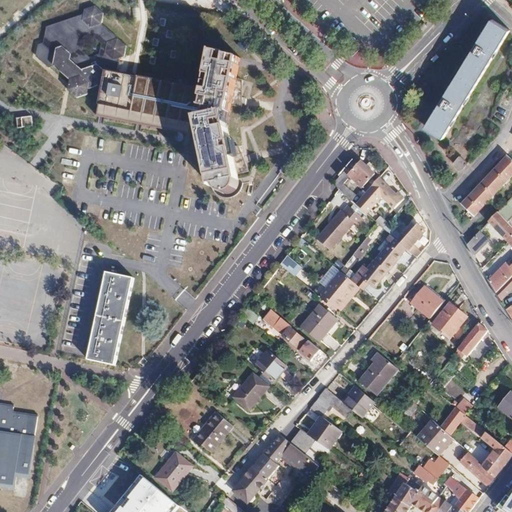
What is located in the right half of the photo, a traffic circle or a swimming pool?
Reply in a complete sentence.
What appears in the right half of the photo is a traffic circle.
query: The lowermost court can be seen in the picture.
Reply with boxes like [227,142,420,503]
[0,262,46,340]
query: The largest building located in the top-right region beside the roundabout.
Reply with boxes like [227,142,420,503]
[423,20,509,142]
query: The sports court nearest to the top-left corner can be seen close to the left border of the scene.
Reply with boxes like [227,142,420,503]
[0,160,39,250]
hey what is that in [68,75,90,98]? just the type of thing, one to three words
building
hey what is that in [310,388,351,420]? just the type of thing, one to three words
building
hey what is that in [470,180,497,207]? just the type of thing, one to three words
house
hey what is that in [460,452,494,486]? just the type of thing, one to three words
house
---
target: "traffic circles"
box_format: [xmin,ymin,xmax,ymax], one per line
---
[327,66,404,143]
